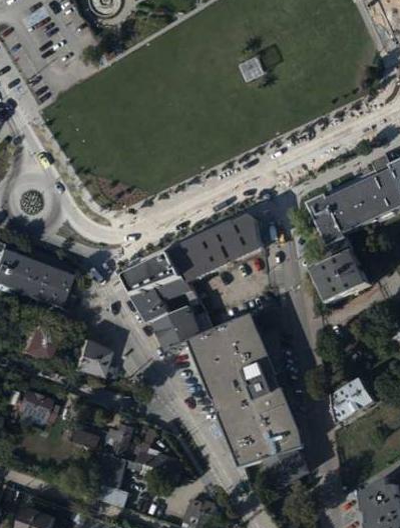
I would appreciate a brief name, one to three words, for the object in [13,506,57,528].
house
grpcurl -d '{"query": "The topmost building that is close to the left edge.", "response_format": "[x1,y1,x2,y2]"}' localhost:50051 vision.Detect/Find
[0,244,78,309]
